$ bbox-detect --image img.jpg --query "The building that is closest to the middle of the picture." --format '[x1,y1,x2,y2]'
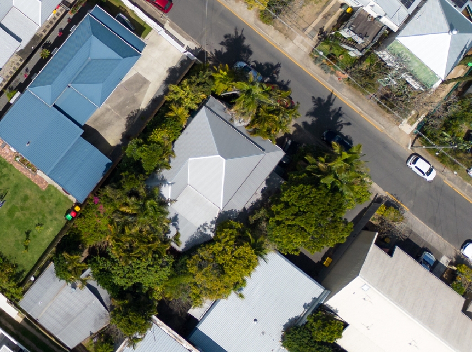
[141,93,285,253]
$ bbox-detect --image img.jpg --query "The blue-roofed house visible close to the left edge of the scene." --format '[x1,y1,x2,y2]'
[0,5,147,204]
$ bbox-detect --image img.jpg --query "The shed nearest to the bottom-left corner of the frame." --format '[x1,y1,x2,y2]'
[18,262,113,350]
